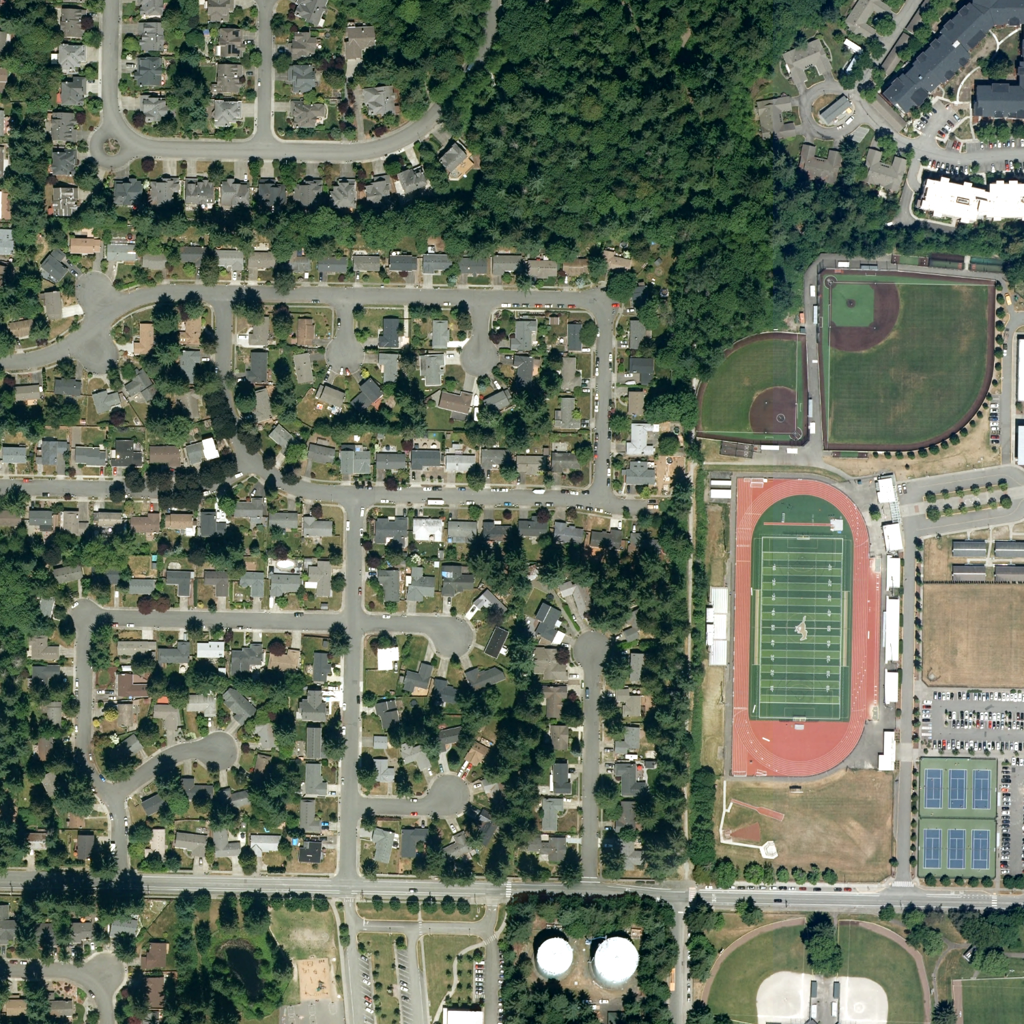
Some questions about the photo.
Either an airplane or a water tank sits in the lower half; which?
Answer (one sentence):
Visible in the lower half is a water tank.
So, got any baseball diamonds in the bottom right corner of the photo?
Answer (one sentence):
Yes, there is a baseball diamond in the bottom right corner of the photo.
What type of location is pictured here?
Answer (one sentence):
The picture captures a residential area.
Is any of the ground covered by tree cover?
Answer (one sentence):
Yes, there is tree cover in the image.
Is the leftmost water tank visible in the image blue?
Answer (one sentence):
No, from above the leftmost water tank looks white.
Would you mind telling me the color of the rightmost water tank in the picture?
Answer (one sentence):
The rightmost water tank is white.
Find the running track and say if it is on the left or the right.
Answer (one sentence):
The running track appears in the right half of the scene.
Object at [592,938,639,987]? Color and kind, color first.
white water tank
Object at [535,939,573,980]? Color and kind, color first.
white water tank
